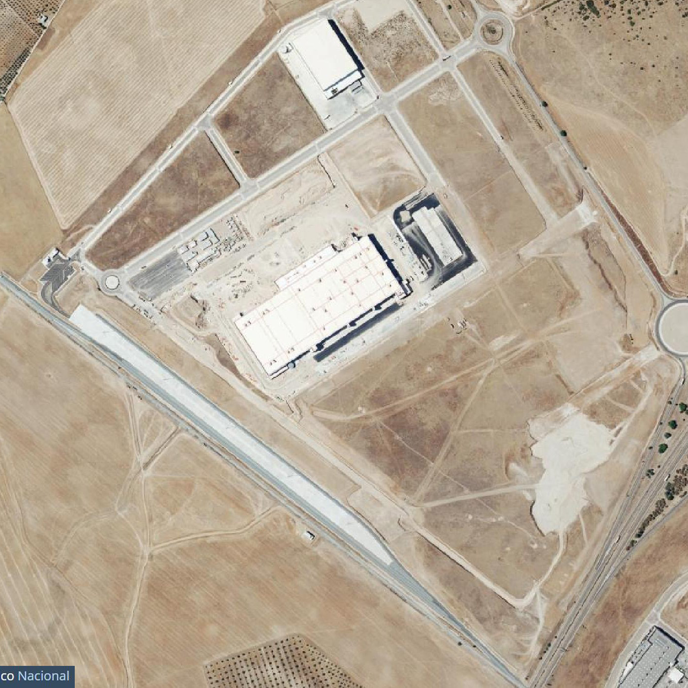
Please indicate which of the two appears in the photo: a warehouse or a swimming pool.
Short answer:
warehouse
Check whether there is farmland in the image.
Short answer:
Yes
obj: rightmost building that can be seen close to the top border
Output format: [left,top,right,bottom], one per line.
[291,20,363,99]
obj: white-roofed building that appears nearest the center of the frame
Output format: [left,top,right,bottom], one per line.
[234,234,410,380]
